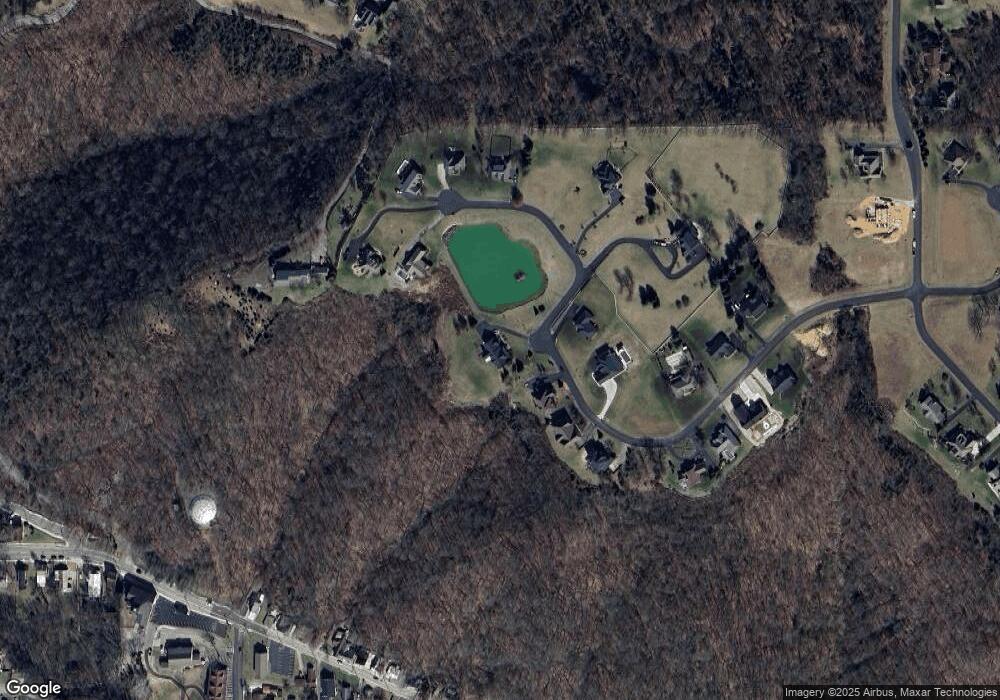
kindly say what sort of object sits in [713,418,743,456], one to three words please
house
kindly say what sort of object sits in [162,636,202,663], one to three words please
building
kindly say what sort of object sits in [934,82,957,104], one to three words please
house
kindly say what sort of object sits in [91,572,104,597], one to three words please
building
